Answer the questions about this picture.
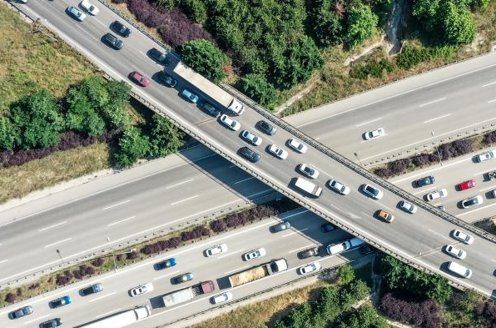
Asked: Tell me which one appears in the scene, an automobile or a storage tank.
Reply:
automobile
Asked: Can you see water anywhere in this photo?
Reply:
No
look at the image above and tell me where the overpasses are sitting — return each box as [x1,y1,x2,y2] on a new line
[90,16,489,287]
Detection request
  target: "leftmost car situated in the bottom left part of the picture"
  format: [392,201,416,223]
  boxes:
[10,305,33,319]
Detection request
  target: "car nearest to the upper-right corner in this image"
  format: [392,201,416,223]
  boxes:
[475,150,496,163]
